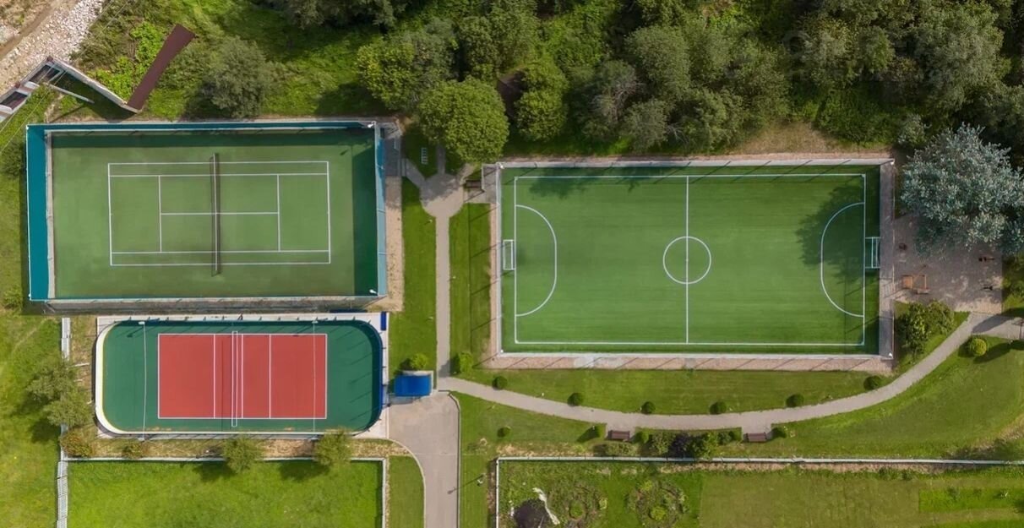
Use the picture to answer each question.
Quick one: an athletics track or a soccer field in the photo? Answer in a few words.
soccer field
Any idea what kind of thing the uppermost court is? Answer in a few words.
tennis court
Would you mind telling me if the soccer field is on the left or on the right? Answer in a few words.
right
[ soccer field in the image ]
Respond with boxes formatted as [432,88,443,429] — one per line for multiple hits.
[499,163,882,357]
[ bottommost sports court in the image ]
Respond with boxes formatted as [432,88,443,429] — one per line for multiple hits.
[103,322,378,432]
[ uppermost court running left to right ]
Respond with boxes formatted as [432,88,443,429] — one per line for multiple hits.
[48,131,385,296]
